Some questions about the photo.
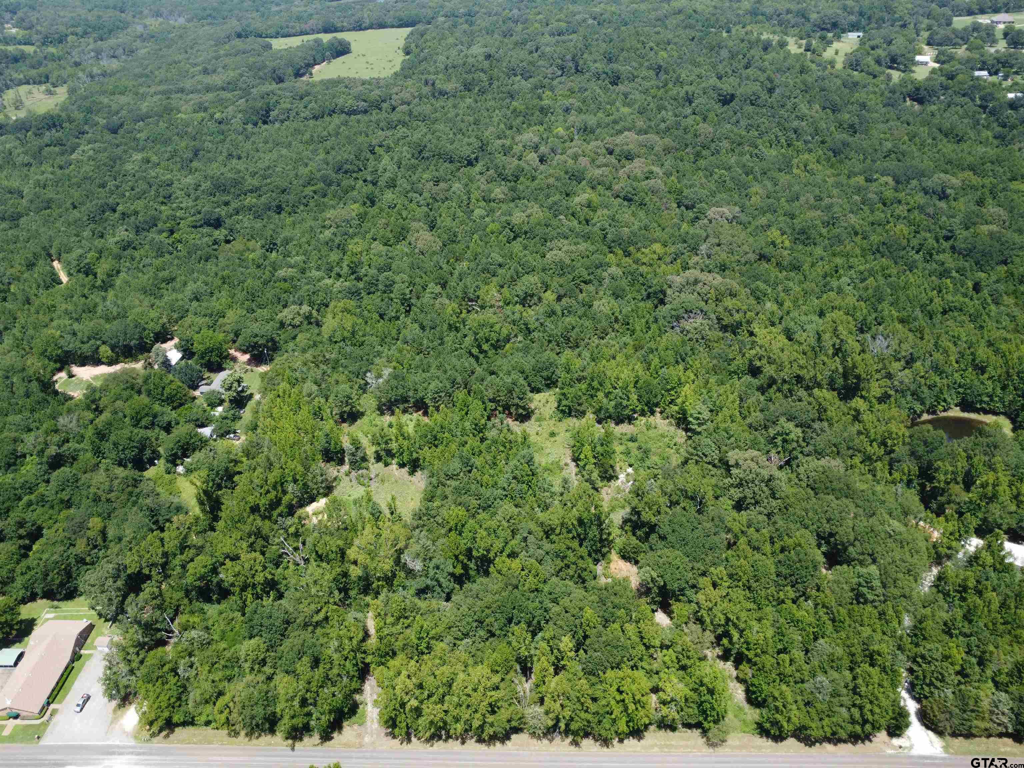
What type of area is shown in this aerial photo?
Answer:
forest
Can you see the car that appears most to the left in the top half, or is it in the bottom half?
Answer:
bottom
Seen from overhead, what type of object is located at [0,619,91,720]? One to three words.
building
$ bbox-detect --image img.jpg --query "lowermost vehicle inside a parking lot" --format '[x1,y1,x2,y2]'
[70,692,91,712]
